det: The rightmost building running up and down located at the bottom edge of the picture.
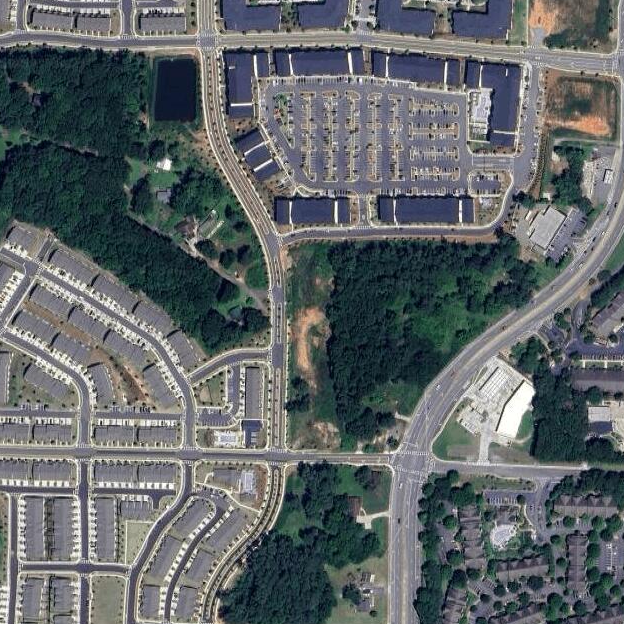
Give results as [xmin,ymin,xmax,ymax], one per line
[566,533,590,594]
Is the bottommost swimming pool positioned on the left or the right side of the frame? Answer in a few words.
right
